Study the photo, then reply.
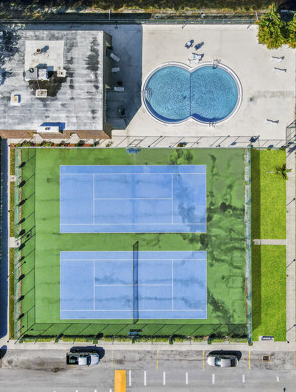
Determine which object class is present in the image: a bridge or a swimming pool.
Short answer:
swimming pool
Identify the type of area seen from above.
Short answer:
sports ground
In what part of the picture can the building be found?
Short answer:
top left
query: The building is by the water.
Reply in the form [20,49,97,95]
[0,30,111,139]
